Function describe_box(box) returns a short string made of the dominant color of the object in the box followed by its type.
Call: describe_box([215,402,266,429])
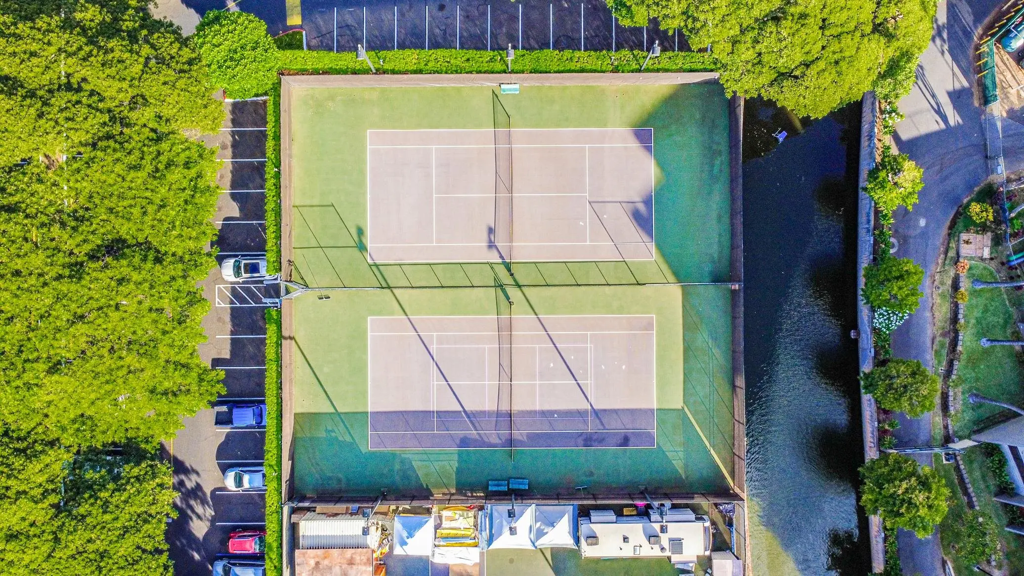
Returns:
blue vehicle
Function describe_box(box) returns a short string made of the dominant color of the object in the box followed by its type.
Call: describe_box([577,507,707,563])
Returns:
white camper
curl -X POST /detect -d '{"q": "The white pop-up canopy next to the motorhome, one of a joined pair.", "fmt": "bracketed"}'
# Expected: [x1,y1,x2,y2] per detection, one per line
[534,503,578,548]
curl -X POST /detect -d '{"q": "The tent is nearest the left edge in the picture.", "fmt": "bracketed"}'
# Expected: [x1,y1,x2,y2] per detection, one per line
[394,509,436,554]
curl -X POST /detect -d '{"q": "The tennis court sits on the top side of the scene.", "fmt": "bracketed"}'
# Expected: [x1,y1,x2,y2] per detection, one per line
[293,84,731,285]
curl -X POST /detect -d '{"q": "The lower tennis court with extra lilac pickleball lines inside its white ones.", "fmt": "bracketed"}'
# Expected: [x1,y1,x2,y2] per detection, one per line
[293,285,732,494]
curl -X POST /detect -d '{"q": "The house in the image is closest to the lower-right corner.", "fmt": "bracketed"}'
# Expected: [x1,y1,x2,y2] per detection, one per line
[938,418,1024,506]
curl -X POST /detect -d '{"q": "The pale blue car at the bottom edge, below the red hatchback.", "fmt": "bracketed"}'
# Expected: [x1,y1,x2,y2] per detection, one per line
[217,556,267,576]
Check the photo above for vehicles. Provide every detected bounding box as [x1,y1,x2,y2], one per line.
[577,507,707,563]
[229,528,266,556]
[227,465,269,492]
[222,255,281,283]
[215,402,266,429]
[217,556,267,576]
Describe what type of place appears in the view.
sports ground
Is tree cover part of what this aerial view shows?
Yes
